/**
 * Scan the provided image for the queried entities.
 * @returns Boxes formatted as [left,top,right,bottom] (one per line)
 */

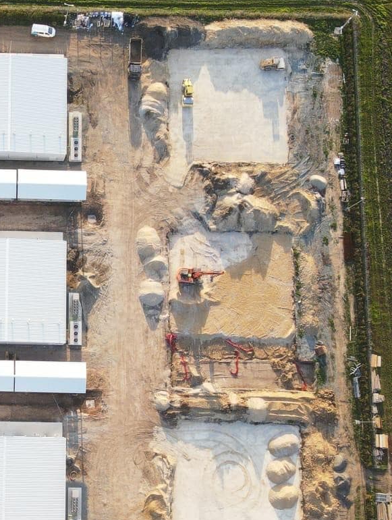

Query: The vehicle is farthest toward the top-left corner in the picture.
[32,21,55,38]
